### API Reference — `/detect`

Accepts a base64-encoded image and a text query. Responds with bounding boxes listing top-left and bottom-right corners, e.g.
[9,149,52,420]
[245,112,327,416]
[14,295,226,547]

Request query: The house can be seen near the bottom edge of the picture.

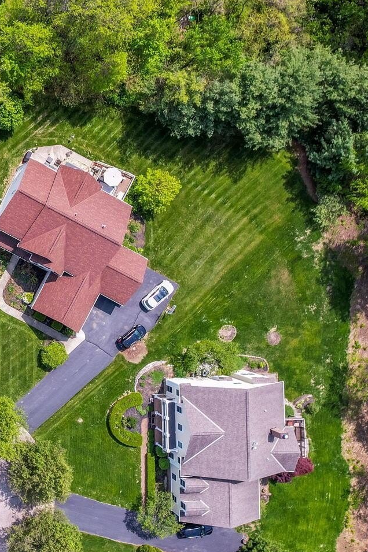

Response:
[150,376,304,530]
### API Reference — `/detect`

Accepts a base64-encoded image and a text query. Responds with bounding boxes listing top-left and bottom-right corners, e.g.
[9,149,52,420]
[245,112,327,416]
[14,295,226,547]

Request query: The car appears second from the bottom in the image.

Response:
[112,321,149,355]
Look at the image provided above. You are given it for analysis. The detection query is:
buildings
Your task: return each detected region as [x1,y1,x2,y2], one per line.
[0,159,148,332]
[150,376,304,530]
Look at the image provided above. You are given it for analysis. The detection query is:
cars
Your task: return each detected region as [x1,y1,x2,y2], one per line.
[112,321,149,355]
[139,278,176,315]
[175,523,213,542]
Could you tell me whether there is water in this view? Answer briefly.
No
